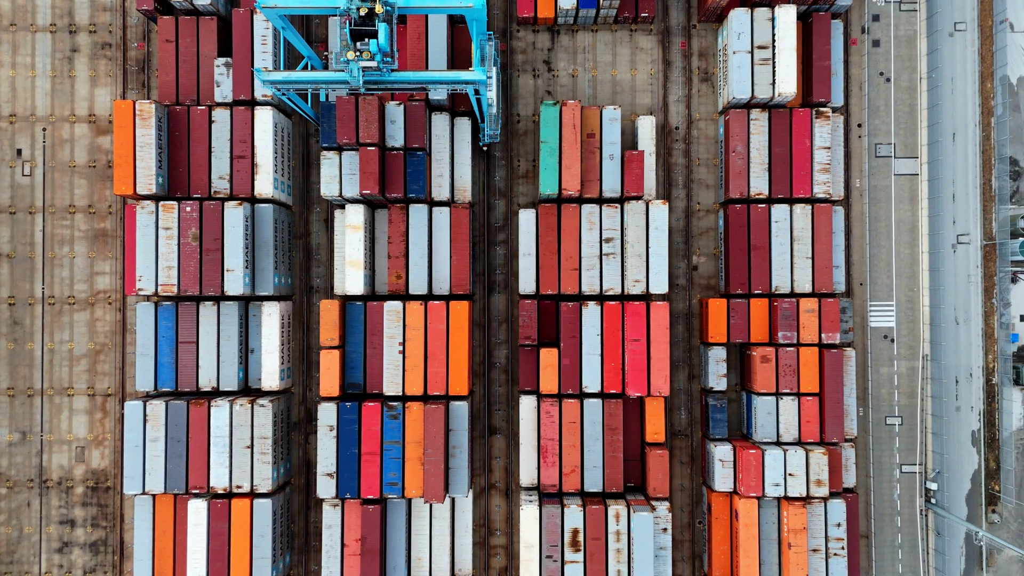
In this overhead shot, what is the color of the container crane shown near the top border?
blue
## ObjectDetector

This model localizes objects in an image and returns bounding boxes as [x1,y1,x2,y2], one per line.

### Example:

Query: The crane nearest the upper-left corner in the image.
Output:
[253,0,500,147]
